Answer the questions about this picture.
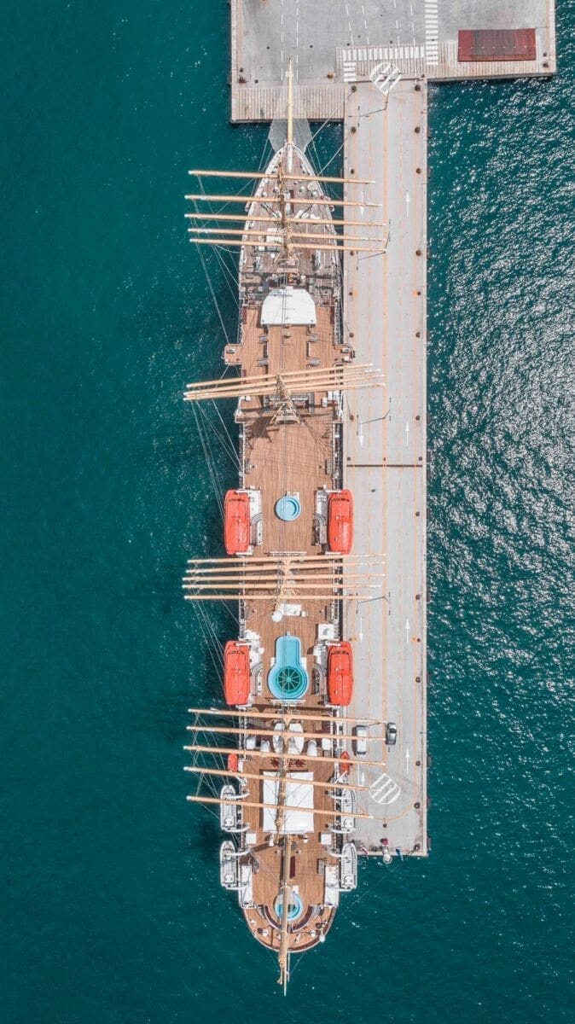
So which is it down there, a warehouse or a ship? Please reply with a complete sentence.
This aerial view contains a ship.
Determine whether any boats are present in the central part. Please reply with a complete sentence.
Yes, there is a boat in the central part.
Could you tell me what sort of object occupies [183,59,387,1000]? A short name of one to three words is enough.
ship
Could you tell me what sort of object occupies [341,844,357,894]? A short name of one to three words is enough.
boat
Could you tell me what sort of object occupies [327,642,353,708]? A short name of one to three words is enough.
boat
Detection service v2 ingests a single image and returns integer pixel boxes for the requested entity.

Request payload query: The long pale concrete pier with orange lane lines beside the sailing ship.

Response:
[343,62,431,856]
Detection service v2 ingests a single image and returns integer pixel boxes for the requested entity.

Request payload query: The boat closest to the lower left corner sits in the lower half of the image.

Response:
[219,841,235,892]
